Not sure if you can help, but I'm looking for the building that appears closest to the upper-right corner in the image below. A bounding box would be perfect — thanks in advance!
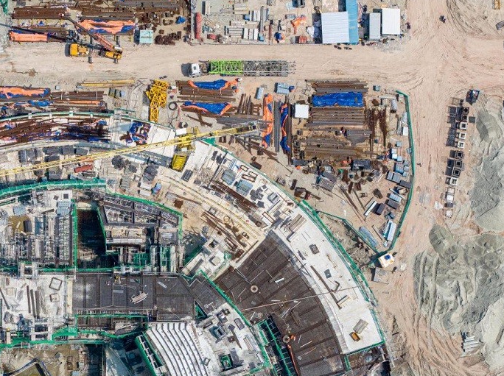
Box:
[380,9,400,38]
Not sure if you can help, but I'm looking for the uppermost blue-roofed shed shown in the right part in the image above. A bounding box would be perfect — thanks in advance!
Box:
[344,0,358,46]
